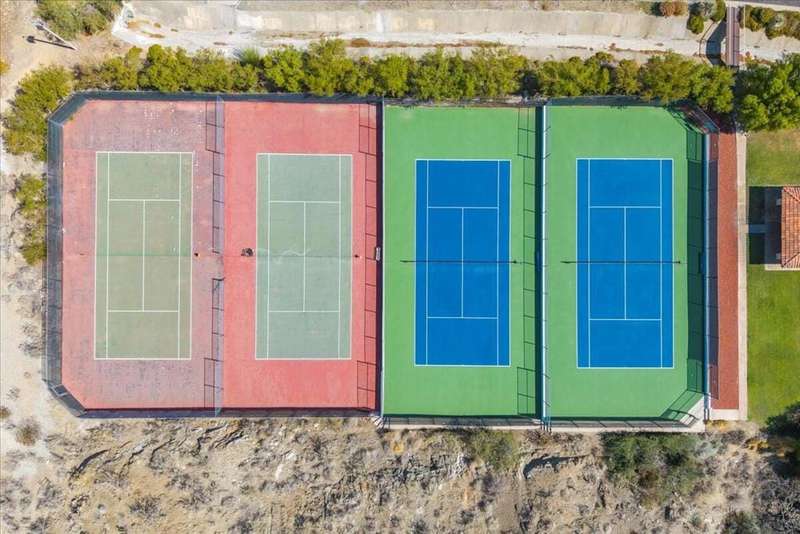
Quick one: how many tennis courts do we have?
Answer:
4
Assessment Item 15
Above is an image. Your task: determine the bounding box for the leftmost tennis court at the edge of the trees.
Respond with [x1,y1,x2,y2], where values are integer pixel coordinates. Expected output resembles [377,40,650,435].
[62,101,224,409]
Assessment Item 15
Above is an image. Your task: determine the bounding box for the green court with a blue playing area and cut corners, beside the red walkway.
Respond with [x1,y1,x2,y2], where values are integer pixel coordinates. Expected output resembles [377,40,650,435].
[545,105,705,420]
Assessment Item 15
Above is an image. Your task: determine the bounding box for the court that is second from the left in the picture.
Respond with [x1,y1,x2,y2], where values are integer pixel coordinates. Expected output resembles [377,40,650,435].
[224,101,382,409]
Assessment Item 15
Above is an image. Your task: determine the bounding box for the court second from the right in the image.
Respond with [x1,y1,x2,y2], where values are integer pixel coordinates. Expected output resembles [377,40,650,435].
[384,105,541,417]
